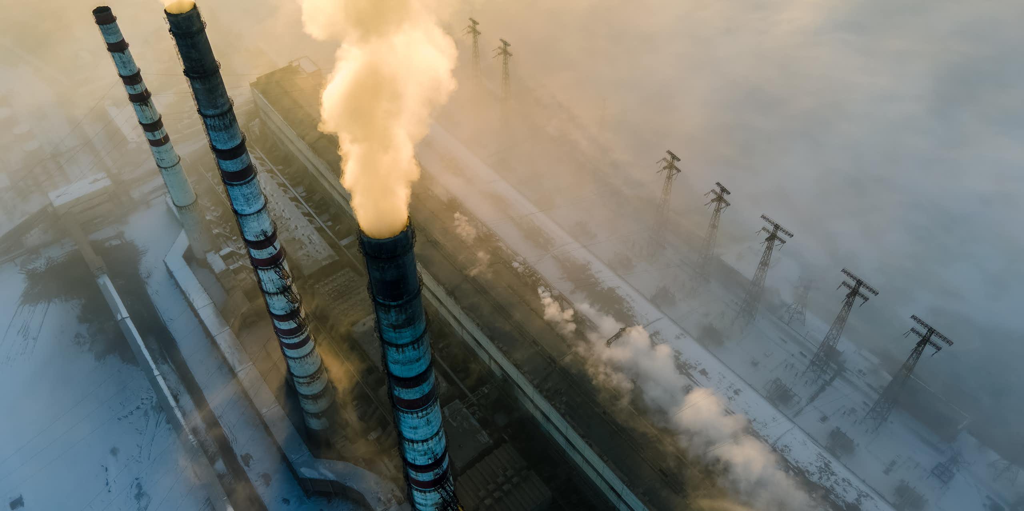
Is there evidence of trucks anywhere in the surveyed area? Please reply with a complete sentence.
No, the frame has no truck in it.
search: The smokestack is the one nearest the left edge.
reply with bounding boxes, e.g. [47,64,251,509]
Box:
[93,5,217,257]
